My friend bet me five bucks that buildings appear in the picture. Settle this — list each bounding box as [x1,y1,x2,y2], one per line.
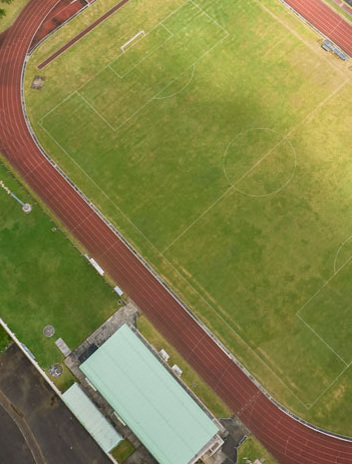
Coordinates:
[63,380,122,451]
[80,324,231,464]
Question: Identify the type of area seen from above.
sports ground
